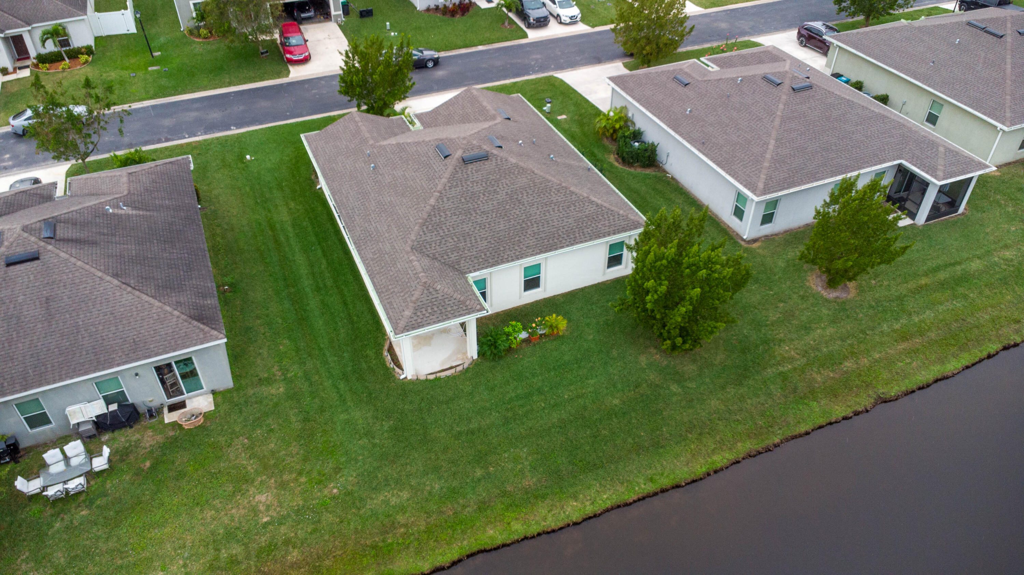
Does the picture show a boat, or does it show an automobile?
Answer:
automobile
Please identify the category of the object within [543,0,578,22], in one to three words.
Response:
car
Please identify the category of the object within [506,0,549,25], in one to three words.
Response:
truck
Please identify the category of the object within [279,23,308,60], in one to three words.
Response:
car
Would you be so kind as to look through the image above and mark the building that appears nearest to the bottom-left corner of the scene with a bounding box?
[0,154,233,448]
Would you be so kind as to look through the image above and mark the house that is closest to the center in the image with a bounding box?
[301,89,649,384]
